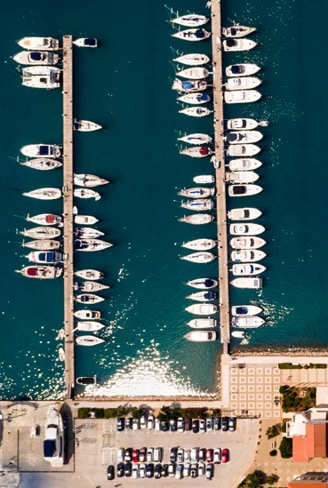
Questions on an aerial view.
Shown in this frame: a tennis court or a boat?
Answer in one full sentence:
The one in the frame is a boat.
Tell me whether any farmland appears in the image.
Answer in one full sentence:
No, there's no farmland in this view.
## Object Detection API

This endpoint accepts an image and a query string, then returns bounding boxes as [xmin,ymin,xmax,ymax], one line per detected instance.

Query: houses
[287,405,328,463]
[288,478,328,488]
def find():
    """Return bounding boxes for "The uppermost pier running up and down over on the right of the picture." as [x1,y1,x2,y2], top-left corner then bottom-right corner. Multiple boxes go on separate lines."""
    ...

[212,0,231,357]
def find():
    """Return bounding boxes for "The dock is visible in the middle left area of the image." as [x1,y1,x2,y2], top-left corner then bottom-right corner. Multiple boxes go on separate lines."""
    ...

[65,34,77,400]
